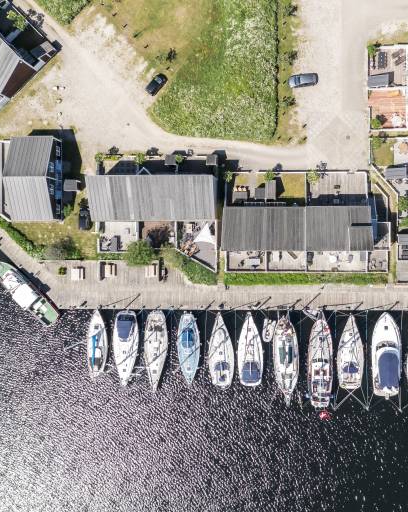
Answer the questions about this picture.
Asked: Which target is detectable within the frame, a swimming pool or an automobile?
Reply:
automobile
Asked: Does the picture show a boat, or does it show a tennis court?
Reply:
boat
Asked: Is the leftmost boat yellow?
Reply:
No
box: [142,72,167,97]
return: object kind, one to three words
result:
car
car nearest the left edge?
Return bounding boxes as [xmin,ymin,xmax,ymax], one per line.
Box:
[75,207,90,232]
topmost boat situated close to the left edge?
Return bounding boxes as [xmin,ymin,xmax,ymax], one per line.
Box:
[0,264,62,327]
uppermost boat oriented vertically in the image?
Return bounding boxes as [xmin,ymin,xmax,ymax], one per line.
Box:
[262,310,274,343]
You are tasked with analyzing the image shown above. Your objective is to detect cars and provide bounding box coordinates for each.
[75,207,90,232]
[142,72,167,97]
[288,71,318,87]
